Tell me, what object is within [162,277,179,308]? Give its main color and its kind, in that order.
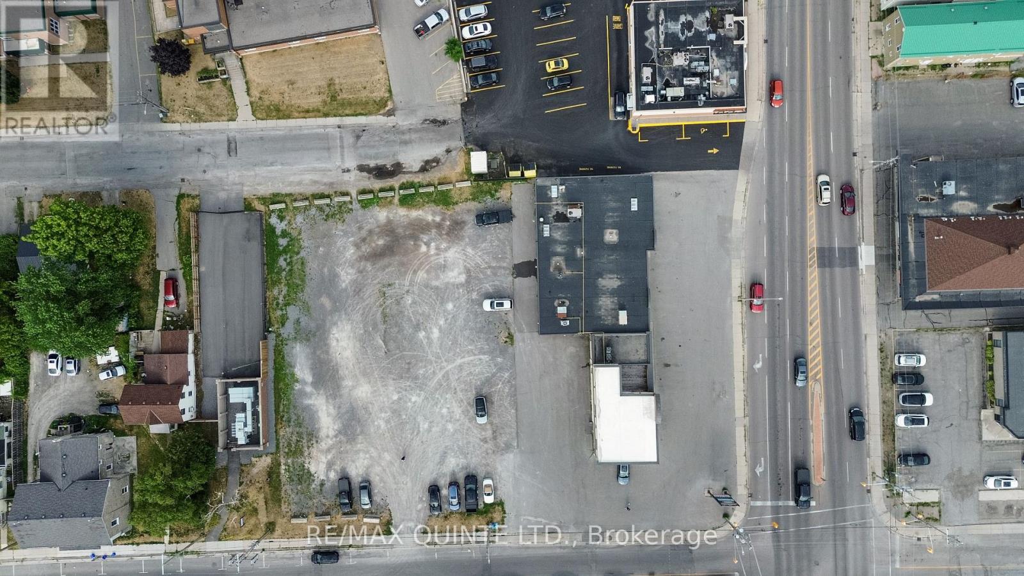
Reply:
red car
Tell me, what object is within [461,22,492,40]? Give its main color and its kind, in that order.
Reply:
white car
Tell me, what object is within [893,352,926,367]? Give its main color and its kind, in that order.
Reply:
white car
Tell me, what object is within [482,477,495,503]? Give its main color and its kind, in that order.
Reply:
white vehicle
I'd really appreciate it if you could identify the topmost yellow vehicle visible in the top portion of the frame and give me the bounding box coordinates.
[545,57,569,73]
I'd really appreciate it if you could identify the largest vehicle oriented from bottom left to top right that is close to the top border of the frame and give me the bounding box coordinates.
[411,8,451,40]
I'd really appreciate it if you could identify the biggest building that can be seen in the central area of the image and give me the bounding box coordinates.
[535,175,654,335]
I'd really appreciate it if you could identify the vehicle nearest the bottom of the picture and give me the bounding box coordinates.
[312,549,340,566]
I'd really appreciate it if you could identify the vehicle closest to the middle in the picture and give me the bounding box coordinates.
[482,298,512,312]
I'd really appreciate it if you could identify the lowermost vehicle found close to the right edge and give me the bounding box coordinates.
[981,475,1018,491]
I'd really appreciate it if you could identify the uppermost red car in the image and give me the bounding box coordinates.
[768,79,785,108]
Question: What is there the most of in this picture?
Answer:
paved ground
